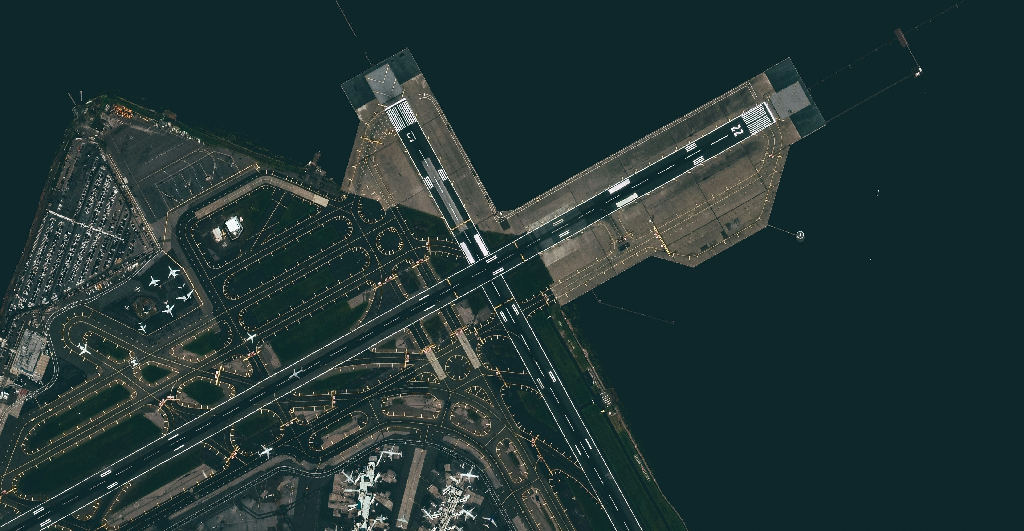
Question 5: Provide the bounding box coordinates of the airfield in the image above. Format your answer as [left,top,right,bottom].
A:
[0,47,826,531]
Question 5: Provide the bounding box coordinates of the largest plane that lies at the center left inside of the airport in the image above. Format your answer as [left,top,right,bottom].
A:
[176,284,194,308]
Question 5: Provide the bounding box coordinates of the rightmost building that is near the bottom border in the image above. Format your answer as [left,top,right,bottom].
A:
[431,475,470,531]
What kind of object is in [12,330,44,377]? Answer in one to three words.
building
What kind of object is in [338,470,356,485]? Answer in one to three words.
airplane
